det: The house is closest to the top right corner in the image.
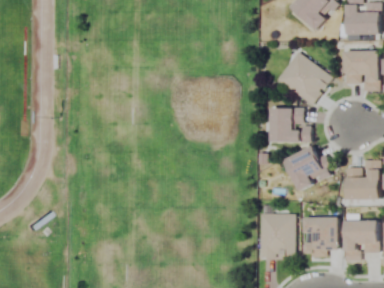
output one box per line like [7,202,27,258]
[343,0,384,41]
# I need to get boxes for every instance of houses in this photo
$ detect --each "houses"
[302,216,340,258]
[342,158,384,206]
[342,213,382,262]
[260,214,298,262]
[342,50,382,92]
[279,51,335,105]
[343,0,384,41]
[290,0,342,31]
[268,108,312,144]
[284,148,333,191]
